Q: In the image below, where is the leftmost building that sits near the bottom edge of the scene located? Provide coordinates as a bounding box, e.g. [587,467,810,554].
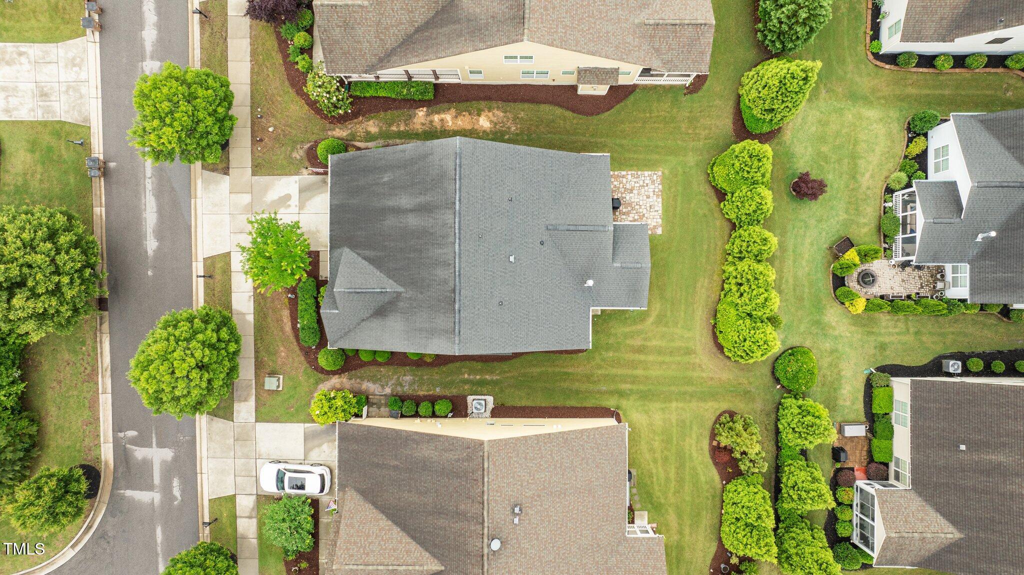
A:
[325,410,666,575]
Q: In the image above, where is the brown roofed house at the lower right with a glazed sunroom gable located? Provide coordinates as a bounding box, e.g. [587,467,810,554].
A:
[856,377,1024,575]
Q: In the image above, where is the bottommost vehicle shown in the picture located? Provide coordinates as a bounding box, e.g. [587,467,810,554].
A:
[261,462,332,495]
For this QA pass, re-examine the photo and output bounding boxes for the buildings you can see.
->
[894,109,1024,308]
[320,137,650,355]
[325,410,666,575]
[313,0,715,95]
[856,377,1024,575]
[880,0,1024,54]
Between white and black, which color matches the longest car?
white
